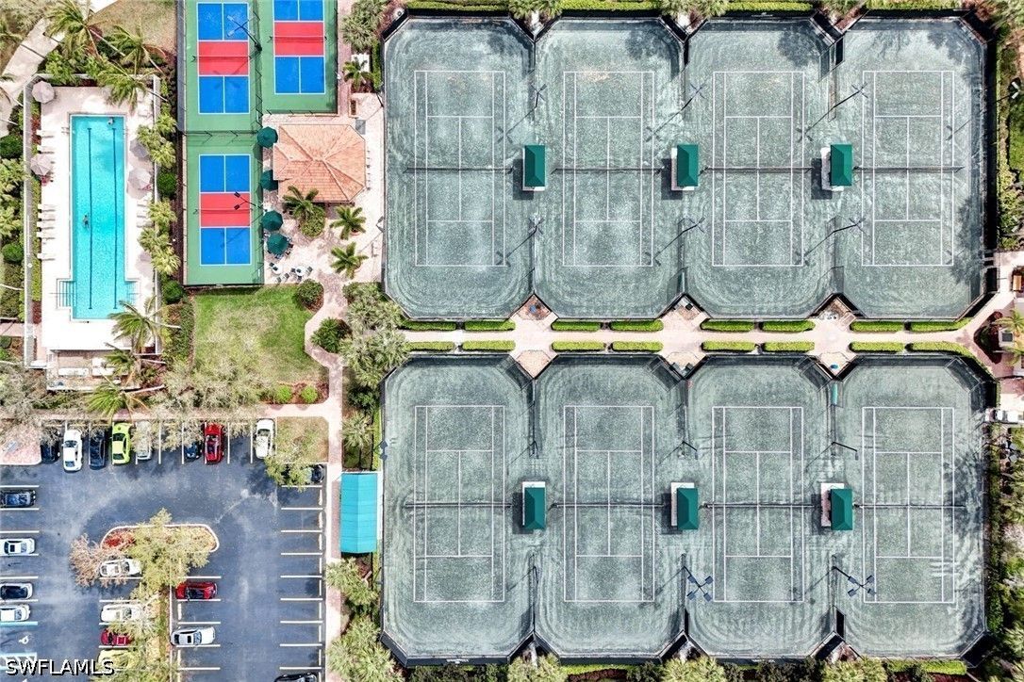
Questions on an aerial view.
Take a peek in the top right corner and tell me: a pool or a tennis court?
tennis court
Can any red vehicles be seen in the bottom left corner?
Yes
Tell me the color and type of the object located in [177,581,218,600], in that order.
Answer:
red car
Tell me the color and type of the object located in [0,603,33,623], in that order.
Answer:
white car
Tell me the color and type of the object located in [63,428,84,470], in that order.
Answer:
white car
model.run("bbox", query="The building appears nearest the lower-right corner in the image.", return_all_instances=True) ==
[822,484,851,530]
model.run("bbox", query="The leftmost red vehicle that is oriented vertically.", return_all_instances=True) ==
[204,423,224,464]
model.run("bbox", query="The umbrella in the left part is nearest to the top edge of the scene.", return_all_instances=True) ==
[35,82,57,105]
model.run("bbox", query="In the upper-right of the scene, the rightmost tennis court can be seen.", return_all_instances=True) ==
[834,18,984,318]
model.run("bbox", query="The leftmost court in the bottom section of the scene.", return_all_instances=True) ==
[384,354,534,656]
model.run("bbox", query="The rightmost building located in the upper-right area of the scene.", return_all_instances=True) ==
[822,143,851,190]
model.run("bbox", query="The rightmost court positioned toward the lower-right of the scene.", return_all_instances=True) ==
[834,354,984,656]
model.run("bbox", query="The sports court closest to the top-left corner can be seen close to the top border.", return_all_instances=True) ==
[185,0,262,131]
